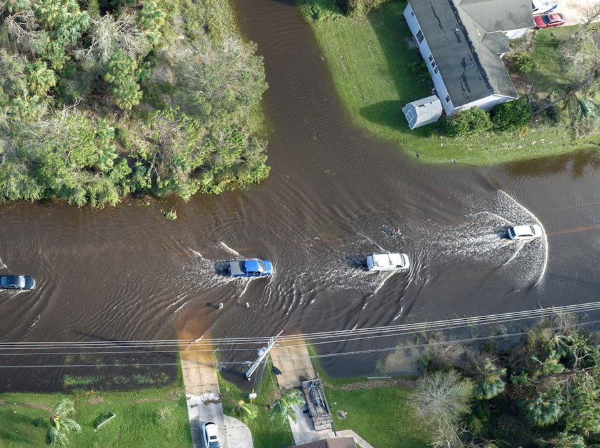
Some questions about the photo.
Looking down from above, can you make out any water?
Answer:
Yes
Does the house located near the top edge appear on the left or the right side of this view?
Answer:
right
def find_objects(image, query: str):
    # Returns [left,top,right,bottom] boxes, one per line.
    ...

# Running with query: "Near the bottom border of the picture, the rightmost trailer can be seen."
[299,371,332,430]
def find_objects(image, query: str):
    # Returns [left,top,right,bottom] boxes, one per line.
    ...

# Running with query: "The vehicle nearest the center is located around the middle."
[227,257,273,275]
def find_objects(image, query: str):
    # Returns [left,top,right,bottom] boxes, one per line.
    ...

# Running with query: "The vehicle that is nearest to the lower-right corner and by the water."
[506,222,543,240]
